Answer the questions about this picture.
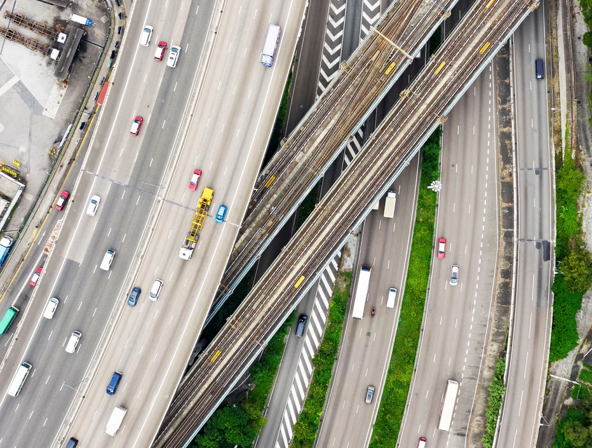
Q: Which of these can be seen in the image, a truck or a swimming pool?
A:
truck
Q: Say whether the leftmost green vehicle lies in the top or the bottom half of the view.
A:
bottom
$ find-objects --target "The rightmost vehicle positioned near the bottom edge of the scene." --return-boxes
[438,378,459,433]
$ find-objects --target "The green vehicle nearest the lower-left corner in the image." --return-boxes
[0,305,20,334]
